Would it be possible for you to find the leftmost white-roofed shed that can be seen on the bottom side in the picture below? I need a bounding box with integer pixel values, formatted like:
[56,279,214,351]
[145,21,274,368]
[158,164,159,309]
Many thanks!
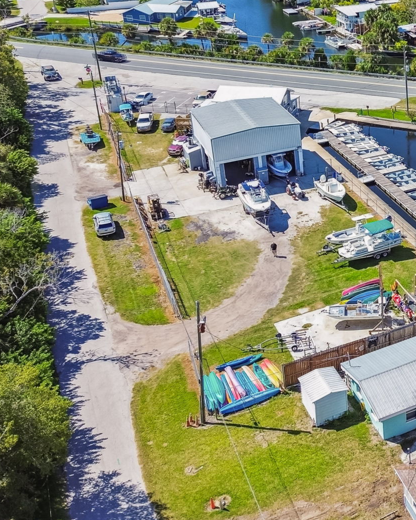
[295,365,349,424]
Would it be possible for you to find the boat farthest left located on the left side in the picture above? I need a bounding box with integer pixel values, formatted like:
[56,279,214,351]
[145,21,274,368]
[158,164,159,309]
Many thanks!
[77,119,98,144]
